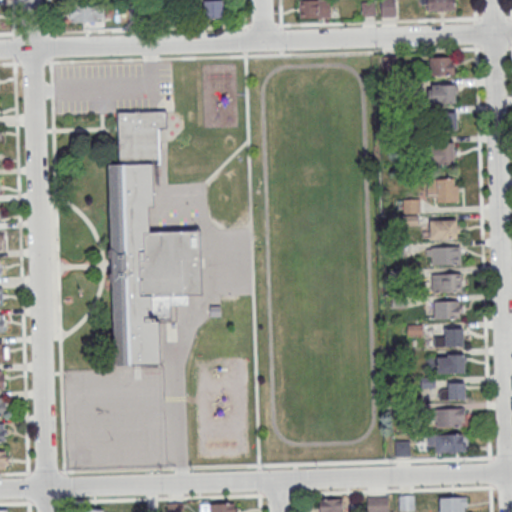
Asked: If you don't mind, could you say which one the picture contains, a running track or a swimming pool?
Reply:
running track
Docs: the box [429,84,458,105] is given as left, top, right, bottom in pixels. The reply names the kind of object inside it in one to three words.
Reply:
house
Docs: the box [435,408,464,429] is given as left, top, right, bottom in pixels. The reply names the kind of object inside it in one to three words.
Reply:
house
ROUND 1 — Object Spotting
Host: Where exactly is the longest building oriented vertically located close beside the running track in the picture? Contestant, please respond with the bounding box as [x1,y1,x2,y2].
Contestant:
[108,112,202,366]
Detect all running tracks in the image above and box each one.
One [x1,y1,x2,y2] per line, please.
[262,64,375,446]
